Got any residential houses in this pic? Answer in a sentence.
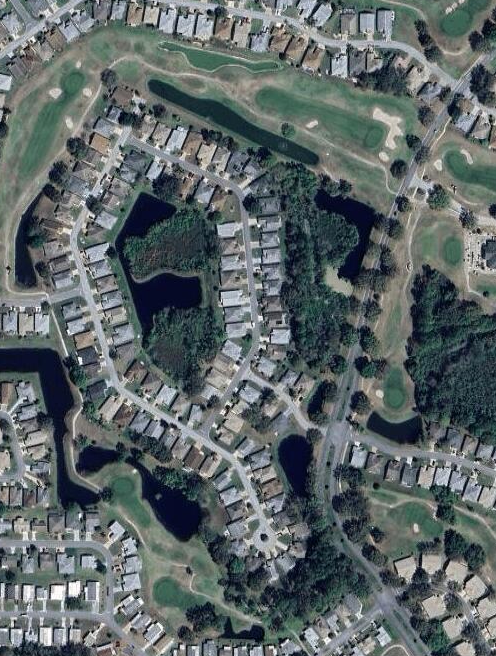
Yes, there's a residential house down there.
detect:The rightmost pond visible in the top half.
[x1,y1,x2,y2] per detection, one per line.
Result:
[315,187,376,279]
